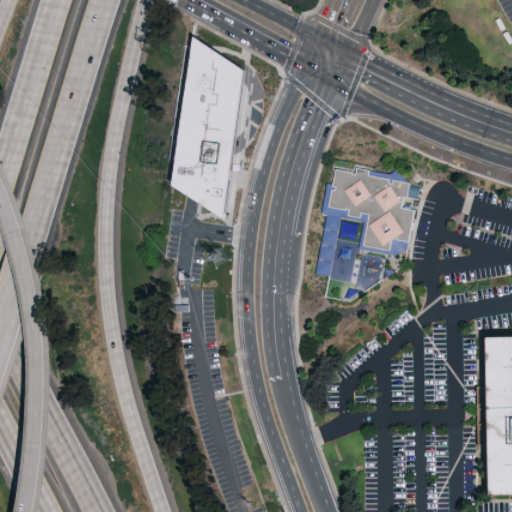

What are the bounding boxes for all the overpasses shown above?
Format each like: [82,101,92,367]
[0,172,48,512]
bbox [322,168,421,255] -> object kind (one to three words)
building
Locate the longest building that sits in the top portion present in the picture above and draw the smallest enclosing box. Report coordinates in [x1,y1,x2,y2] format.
[170,34,244,218]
